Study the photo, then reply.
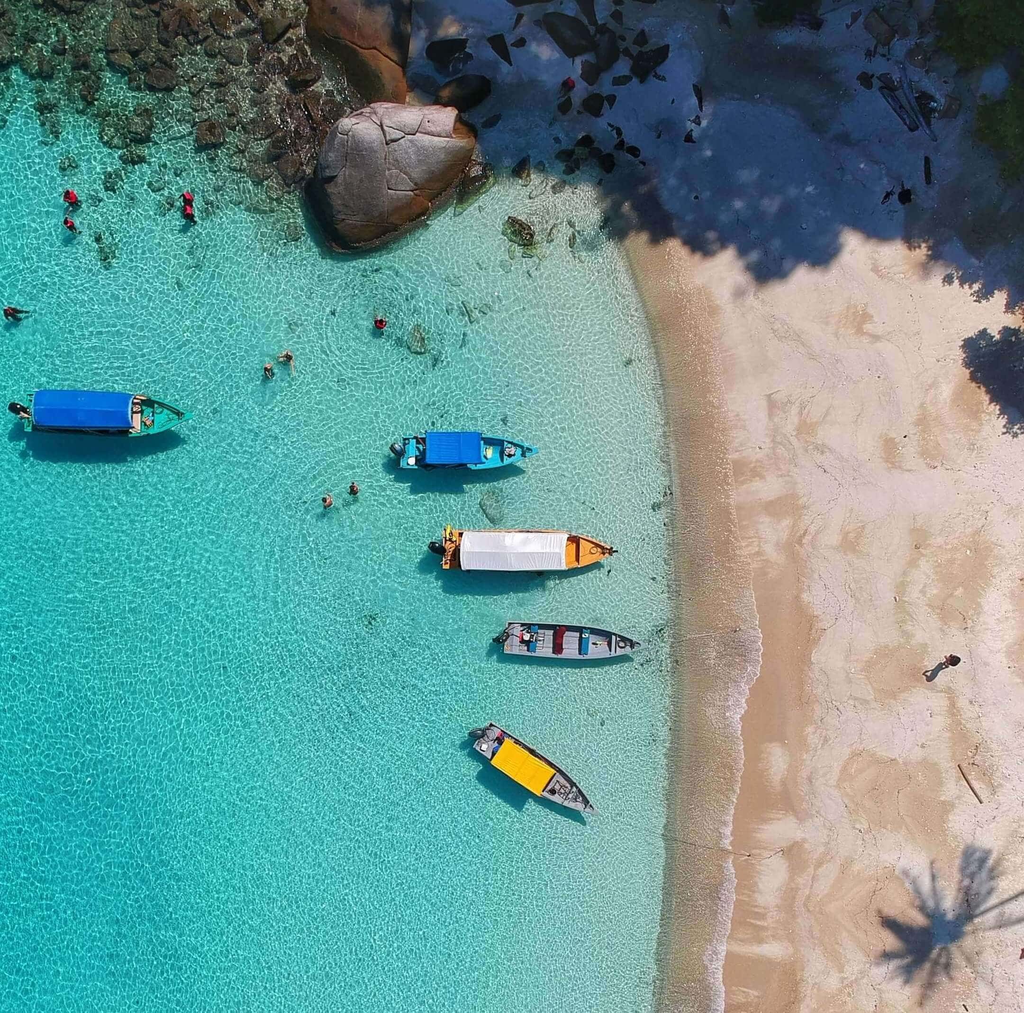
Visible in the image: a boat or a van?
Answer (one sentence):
The one in the frame is a boat.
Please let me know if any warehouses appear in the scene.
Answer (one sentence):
No, I can see no warehouse in this picture.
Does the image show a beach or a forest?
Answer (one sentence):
The picture captures a beach.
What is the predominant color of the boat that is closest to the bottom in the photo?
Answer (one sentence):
From above, the boat that is closest to the bottom appears yellow.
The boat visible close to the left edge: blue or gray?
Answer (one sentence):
The color of the boat visible close to the left edge is blue.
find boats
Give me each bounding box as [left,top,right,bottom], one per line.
[474,720,599,815]
[430,530,617,571]
[5,390,196,434]
[494,622,647,658]
[388,433,538,469]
